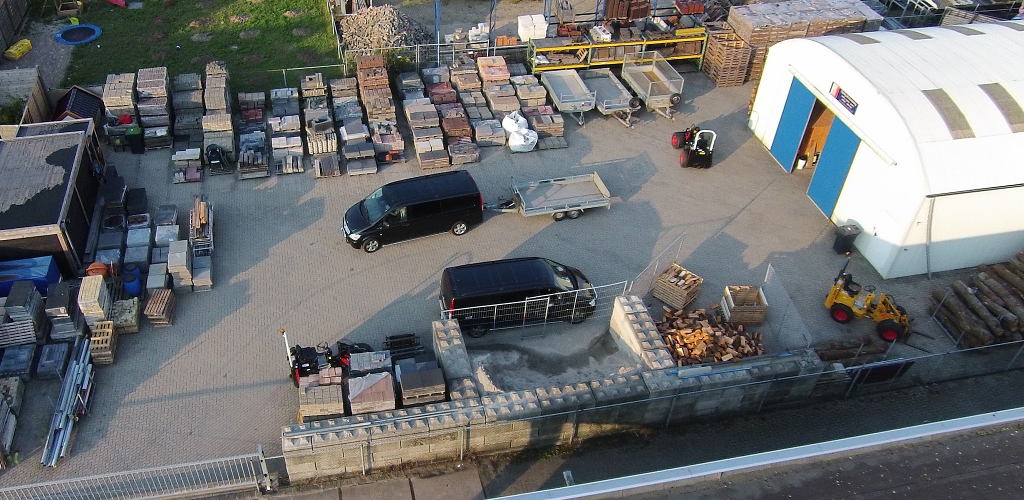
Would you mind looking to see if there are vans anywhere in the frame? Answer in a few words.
Yes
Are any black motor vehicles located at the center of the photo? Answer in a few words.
Yes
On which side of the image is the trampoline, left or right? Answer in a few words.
left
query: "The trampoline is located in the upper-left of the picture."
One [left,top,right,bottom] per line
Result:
[55,25,101,48]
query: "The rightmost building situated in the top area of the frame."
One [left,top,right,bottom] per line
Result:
[743,26,1024,280]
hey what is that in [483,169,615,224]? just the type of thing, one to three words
trailer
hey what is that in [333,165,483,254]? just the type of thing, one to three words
van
